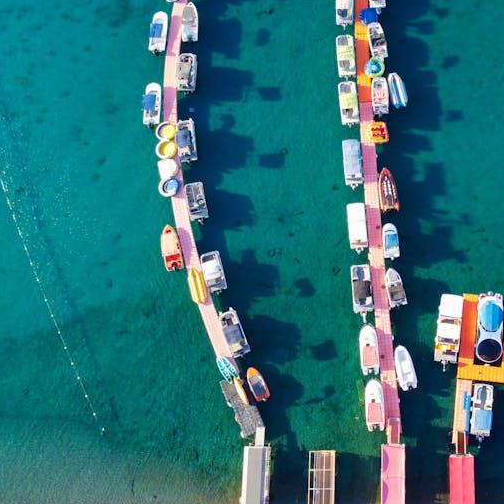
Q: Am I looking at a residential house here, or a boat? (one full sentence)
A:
It is a boat that can be seen here.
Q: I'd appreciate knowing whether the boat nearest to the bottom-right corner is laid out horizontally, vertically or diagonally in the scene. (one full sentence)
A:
The boat nearest to the bottom-right corner is oriented vertically.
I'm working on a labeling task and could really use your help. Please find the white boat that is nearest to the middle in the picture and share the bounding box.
[198,252,227,301]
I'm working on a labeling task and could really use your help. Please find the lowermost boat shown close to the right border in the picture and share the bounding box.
[469,385,493,446]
